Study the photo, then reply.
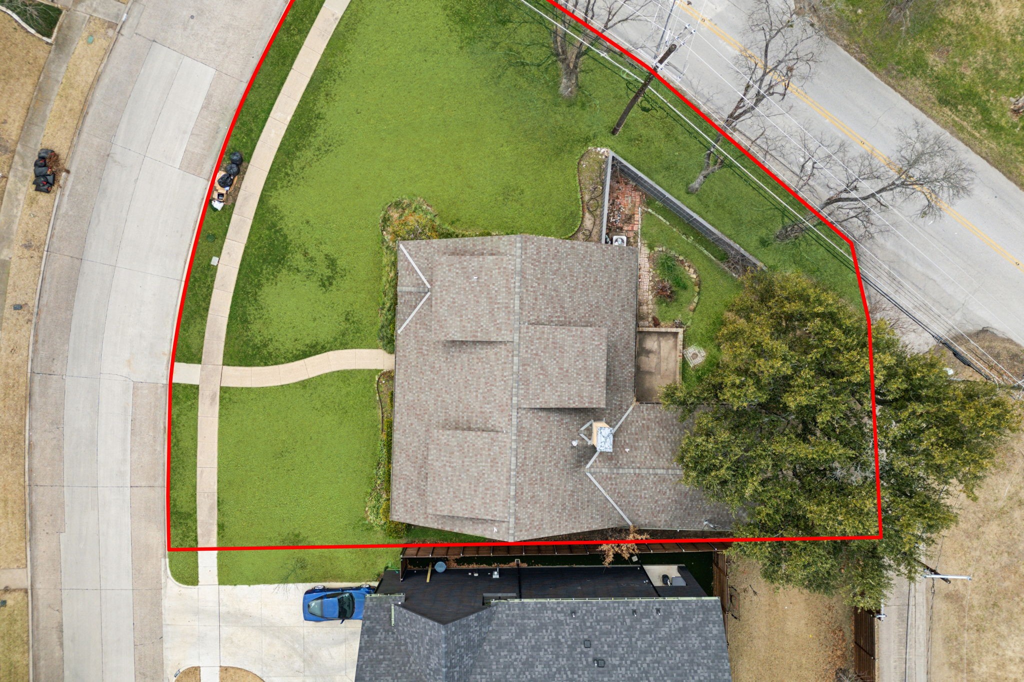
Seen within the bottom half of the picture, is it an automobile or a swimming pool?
automobile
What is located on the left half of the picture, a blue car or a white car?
blue car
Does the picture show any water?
No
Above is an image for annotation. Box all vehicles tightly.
[303,588,368,626]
